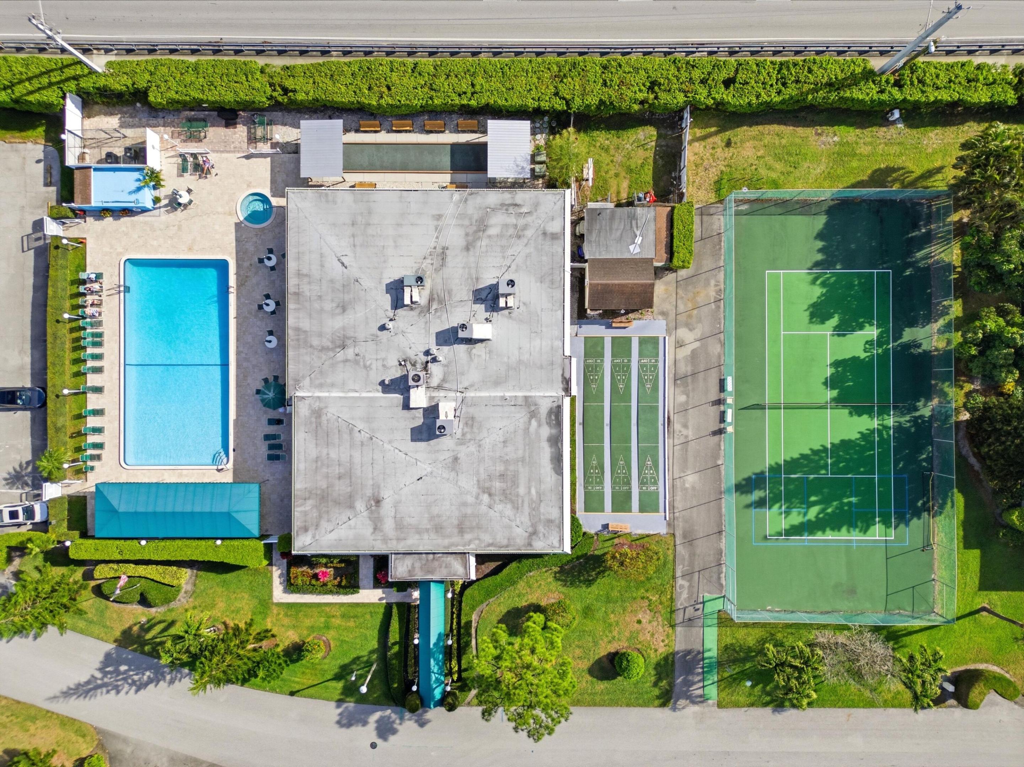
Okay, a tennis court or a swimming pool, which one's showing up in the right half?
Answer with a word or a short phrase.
tennis court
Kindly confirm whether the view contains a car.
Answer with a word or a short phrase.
Yes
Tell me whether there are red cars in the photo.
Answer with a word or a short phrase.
No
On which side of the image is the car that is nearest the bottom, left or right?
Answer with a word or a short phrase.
left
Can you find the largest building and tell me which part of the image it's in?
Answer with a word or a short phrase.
center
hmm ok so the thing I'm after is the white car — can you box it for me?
[0,500,49,527]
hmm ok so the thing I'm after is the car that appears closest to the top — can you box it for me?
[0,383,48,411]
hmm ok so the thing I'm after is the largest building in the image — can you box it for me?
[285,187,577,554]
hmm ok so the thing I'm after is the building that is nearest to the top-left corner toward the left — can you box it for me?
[77,168,156,211]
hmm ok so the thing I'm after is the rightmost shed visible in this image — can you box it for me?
[585,203,670,309]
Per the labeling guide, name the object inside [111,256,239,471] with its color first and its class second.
blue swimming pool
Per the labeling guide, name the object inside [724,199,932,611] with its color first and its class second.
green tennis court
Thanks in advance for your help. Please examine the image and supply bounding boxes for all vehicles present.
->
[0,383,48,411]
[0,500,49,527]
